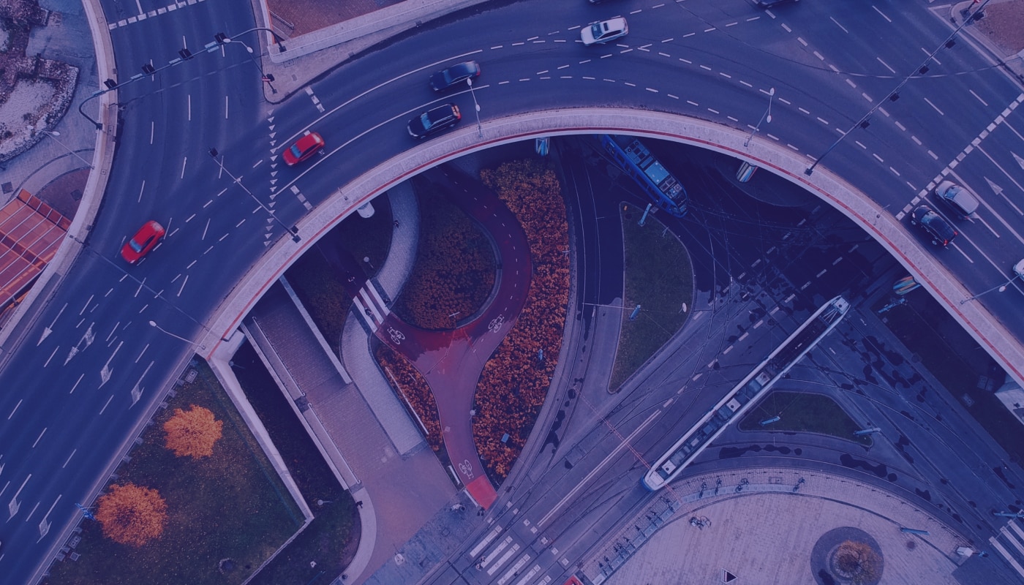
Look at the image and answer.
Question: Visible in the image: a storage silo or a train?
train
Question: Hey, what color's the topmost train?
blue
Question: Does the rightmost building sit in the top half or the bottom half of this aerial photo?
bottom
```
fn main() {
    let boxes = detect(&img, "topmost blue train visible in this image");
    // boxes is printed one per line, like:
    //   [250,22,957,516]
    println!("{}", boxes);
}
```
[587,135,687,226]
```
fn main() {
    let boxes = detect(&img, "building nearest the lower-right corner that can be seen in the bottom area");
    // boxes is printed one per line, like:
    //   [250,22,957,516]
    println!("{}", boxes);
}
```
[994,376,1024,425]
